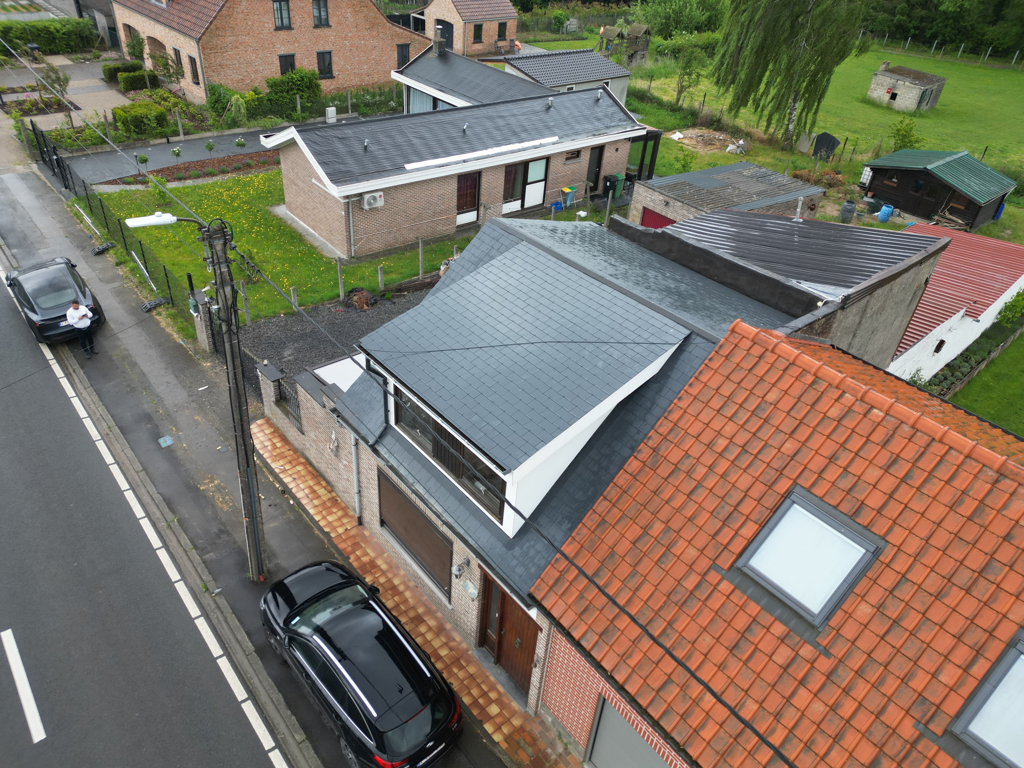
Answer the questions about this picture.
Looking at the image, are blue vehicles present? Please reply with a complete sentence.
No, no blue vehicle can be seen from above.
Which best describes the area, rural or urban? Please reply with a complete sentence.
It looks urban.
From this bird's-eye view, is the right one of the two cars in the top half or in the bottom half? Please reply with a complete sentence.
The bottom half of the photo is where the right one of the two cars is.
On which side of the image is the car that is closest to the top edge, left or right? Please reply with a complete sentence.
It is on the left.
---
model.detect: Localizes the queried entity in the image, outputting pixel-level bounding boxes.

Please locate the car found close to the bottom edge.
[258,563,466,768]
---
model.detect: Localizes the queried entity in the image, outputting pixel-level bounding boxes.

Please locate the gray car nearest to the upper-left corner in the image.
[0,259,102,338]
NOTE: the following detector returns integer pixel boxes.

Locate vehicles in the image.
[0,259,102,338]
[258,563,466,768]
